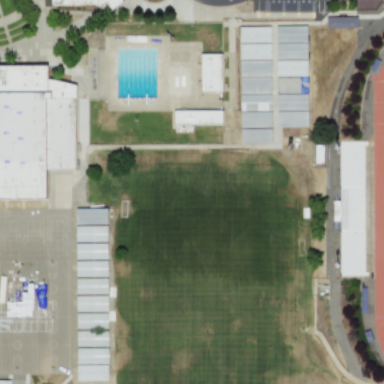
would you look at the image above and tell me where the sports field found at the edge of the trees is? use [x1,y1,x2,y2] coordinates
[67,150,350,384]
